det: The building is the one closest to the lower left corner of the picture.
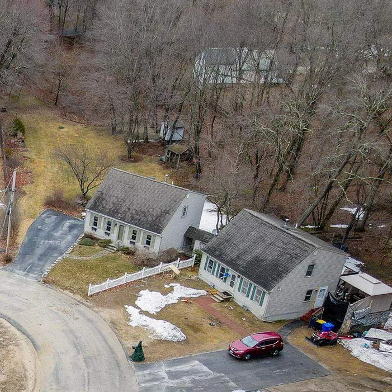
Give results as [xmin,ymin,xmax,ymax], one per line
[85,167,208,257]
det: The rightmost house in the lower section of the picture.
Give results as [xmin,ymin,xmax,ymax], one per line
[199,208,349,321]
